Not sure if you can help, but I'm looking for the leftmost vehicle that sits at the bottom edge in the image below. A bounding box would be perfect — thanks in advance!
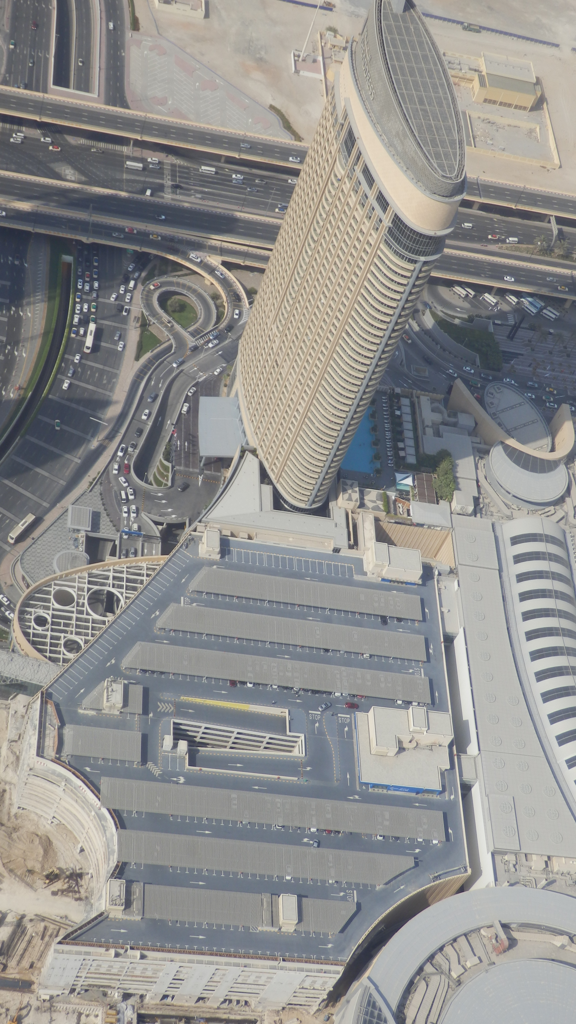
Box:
[5,999,28,1024]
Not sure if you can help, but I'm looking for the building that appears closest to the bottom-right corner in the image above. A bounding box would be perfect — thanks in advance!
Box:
[320,887,576,1024]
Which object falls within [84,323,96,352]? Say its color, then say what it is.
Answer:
white vehicle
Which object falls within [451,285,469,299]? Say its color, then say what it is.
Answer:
white vehicle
